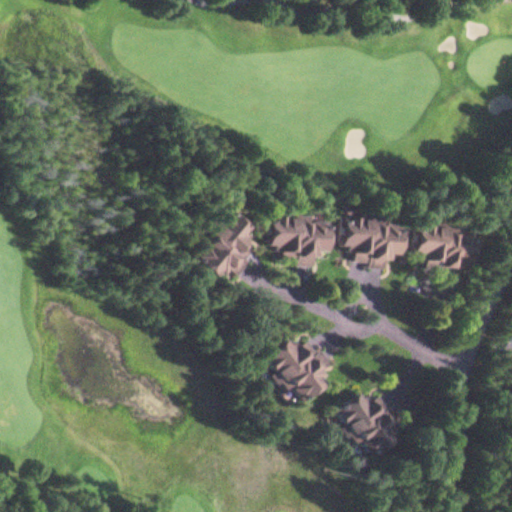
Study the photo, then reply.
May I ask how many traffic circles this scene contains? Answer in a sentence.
There are no traffic circles in this view.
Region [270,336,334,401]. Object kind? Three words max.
house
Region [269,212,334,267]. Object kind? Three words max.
house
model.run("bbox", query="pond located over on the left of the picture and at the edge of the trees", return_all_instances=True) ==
[44,303,182,423]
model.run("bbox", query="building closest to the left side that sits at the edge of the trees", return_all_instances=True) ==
[200,215,261,285]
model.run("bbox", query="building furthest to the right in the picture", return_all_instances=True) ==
[419,222,482,276]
